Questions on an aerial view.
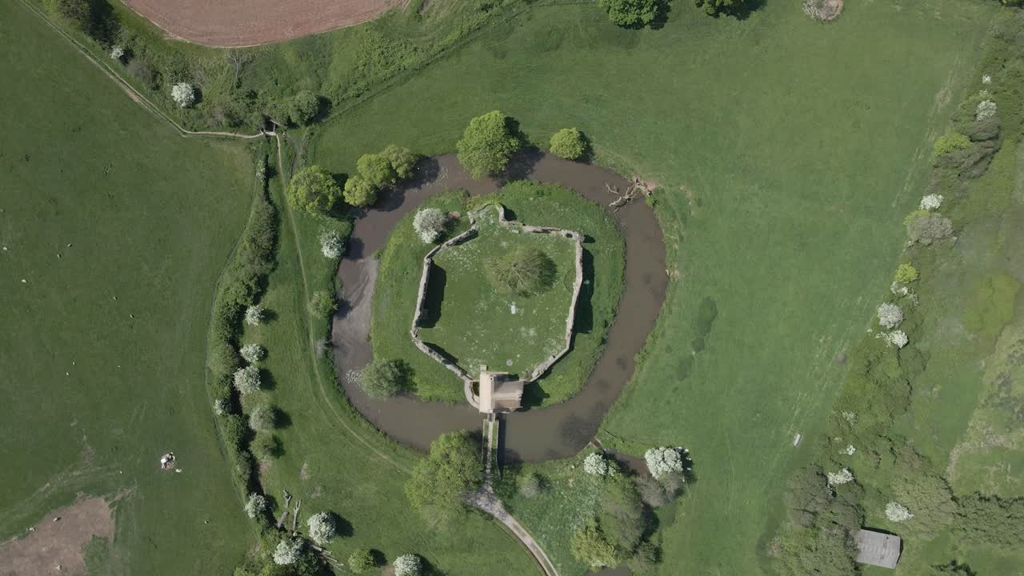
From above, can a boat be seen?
No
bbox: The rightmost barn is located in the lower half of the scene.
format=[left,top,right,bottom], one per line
[851,528,901,568]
